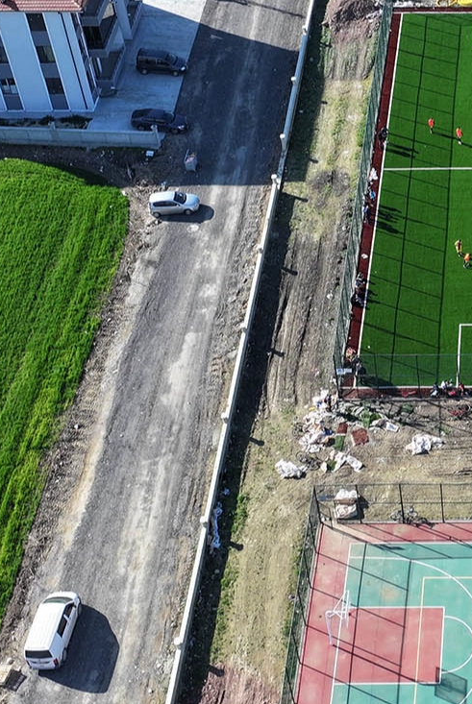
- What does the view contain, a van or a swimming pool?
van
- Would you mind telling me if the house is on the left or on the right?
left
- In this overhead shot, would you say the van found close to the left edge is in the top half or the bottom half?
bottom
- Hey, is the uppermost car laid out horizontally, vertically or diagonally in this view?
horizontally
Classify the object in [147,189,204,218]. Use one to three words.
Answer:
car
